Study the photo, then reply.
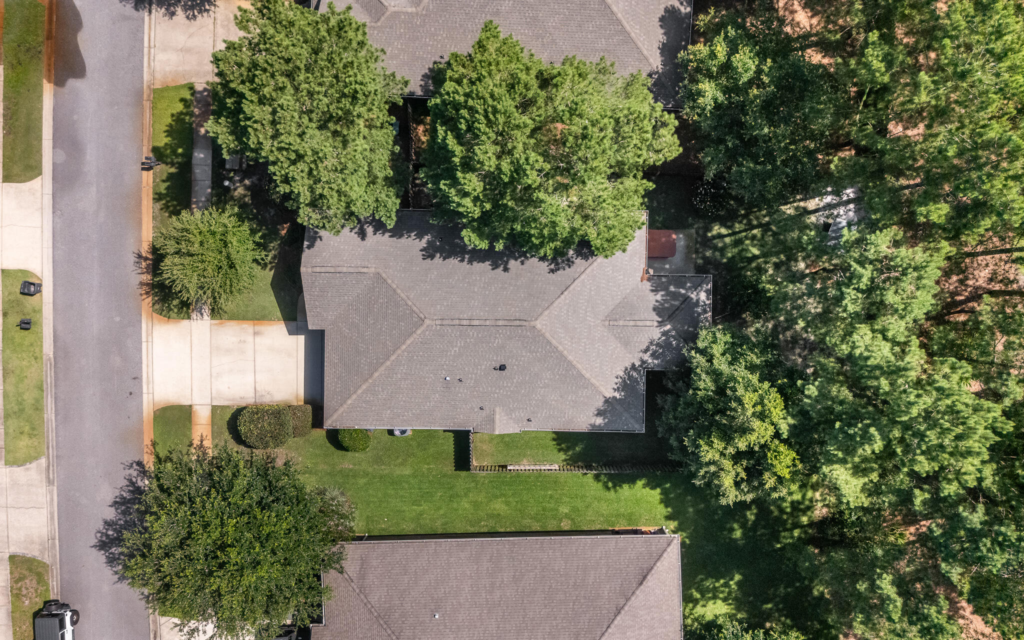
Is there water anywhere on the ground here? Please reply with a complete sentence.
No, no water is visible.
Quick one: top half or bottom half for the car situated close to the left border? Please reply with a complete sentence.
The car situated close to the left border sits in the bottom half of the picture.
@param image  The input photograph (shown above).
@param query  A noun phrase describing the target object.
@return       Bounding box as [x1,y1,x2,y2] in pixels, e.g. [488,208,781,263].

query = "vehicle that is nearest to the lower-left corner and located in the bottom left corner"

[38,603,78,640]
